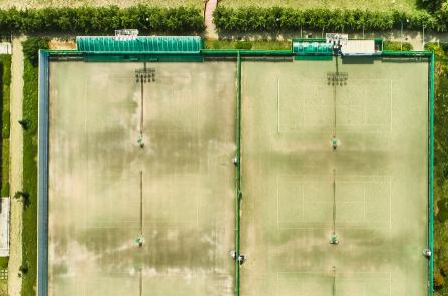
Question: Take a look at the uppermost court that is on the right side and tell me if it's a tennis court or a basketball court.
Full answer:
I'd say the uppermost court that is on the right side is a tennis court.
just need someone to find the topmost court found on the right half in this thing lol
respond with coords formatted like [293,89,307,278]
[240,55,429,154]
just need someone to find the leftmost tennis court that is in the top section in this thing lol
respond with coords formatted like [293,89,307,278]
[49,55,240,154]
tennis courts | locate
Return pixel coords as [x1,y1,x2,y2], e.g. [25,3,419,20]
[240,154,429,250]
[49,250,240,296]
[49,154,240,250]
[49,55,240,154]
[240,250,429,296]
[240,55,429,154]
